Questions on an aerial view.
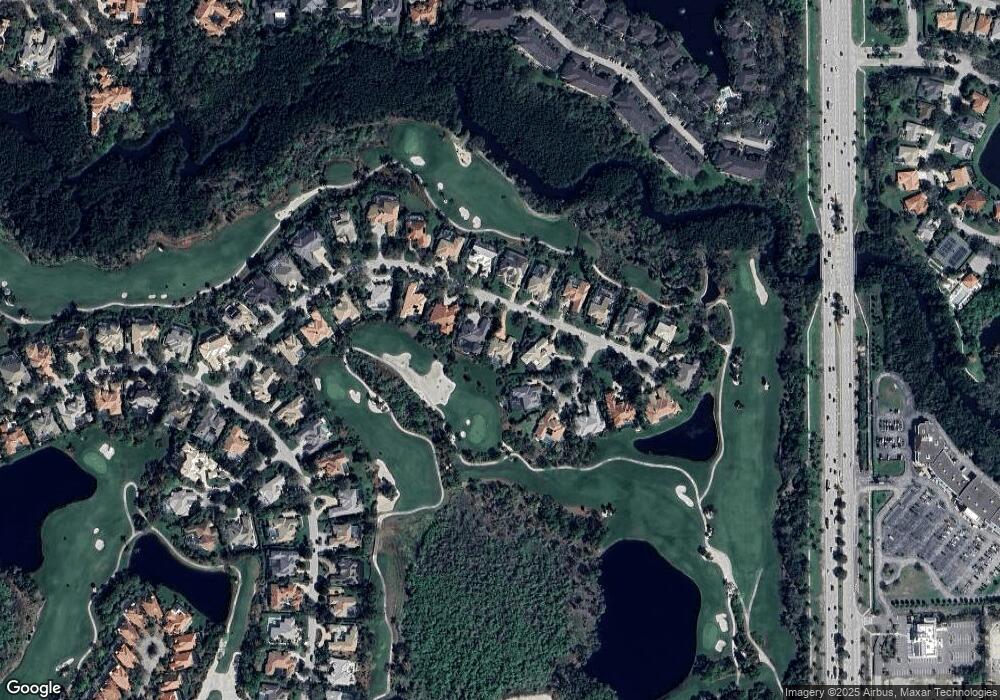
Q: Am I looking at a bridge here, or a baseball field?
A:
bridge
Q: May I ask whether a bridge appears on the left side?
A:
No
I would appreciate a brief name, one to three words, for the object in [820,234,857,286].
bridge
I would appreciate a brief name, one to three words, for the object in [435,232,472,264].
house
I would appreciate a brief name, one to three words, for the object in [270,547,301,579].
house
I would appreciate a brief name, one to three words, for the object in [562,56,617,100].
building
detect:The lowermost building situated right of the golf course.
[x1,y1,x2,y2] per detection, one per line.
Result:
[908,618,947,658]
